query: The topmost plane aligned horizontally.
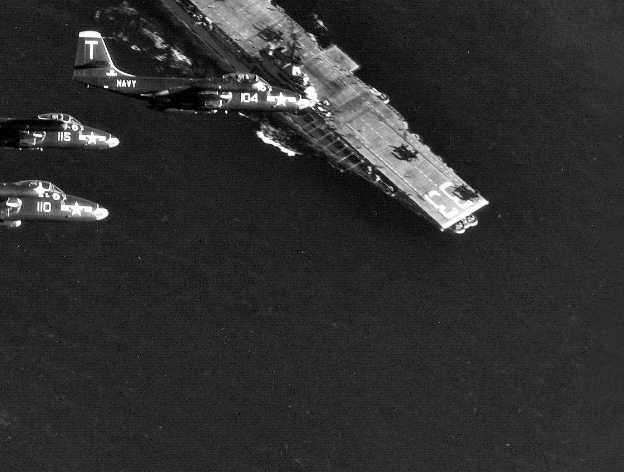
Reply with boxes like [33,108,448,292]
[72,30,308,115]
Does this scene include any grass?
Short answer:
No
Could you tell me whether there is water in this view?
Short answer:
Yes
